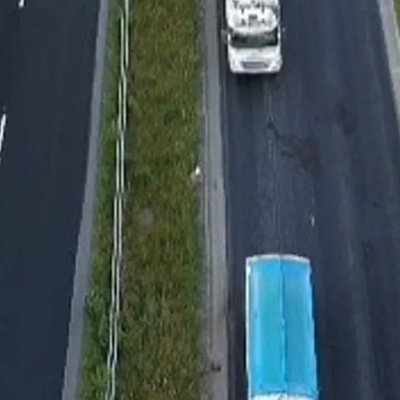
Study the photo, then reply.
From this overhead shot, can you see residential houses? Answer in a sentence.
No, the frame has no residential house in it.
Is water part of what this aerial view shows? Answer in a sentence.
No, no water is visible.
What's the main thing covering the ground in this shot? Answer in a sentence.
Most of the picture is covered by paved ground.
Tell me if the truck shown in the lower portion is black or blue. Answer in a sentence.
The truck shown in the lower portion looks blue in the image.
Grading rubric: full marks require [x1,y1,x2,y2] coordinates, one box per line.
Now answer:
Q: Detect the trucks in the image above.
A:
[244,257,320,400]
[225,0,291,72]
